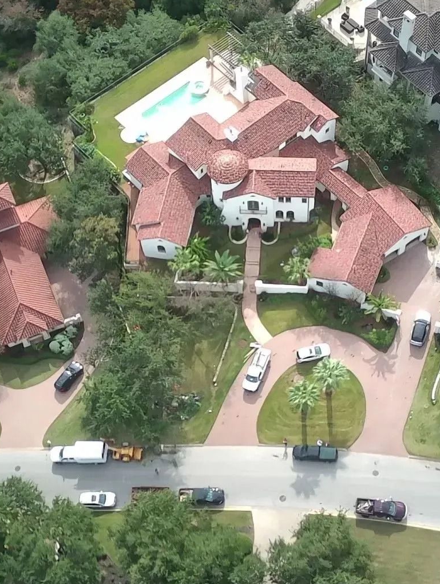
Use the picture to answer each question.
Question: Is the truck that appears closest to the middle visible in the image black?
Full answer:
No, the color of the truck that appears closest to the middle is white.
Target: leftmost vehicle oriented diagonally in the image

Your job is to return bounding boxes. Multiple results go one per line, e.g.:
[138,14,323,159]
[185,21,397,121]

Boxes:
[54,361,84,393]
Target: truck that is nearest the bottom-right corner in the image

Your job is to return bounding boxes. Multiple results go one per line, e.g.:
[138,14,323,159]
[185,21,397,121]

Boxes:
[355,497,408,521]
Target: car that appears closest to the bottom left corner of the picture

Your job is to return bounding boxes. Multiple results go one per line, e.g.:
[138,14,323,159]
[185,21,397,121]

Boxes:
[78,491,117,509]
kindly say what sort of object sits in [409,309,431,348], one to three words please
car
